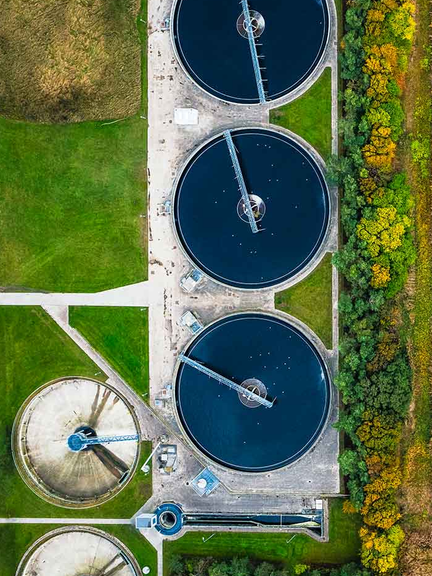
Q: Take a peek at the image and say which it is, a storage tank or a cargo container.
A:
storage tank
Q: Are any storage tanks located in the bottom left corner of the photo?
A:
Yes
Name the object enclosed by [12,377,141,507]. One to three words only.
storage tank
